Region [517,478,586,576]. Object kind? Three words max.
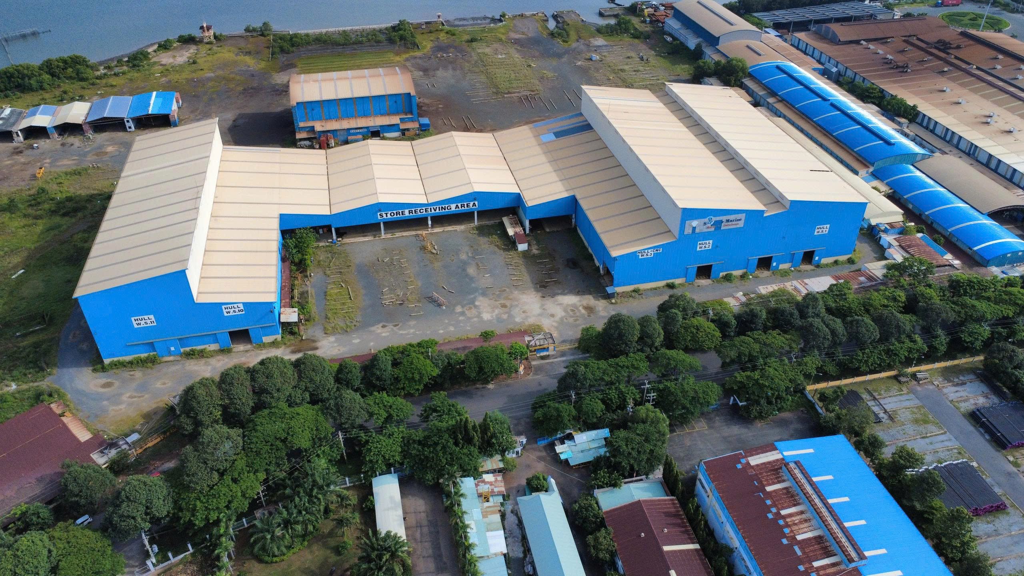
house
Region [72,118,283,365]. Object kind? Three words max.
building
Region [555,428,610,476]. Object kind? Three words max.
shed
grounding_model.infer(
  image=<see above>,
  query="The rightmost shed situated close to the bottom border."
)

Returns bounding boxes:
[695,435,954,576]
